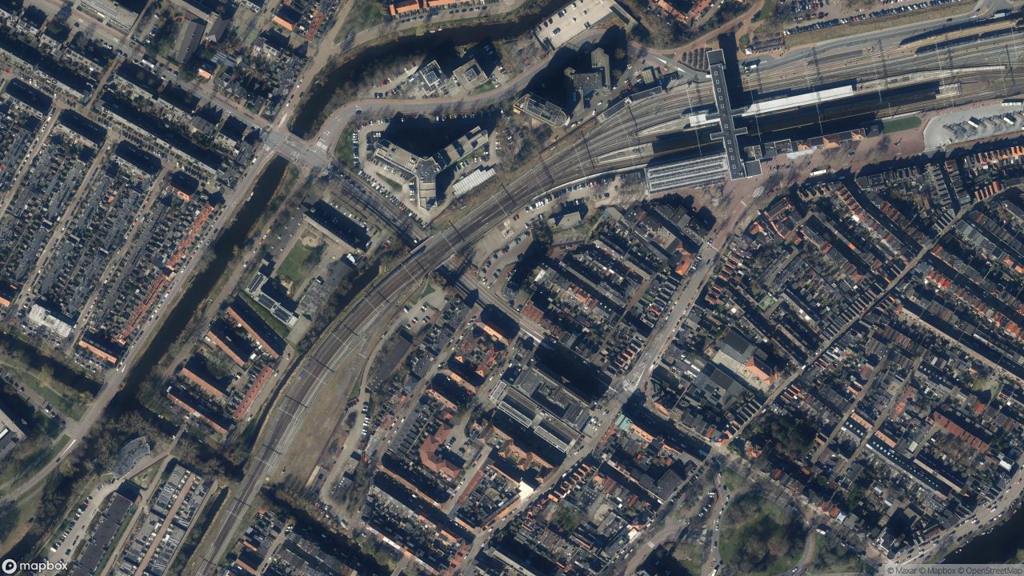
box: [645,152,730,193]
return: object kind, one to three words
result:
shed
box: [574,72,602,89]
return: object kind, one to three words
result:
building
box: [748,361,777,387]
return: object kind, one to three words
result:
building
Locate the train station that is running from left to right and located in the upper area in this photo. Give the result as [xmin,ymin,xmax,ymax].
[531,48,1006,201]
